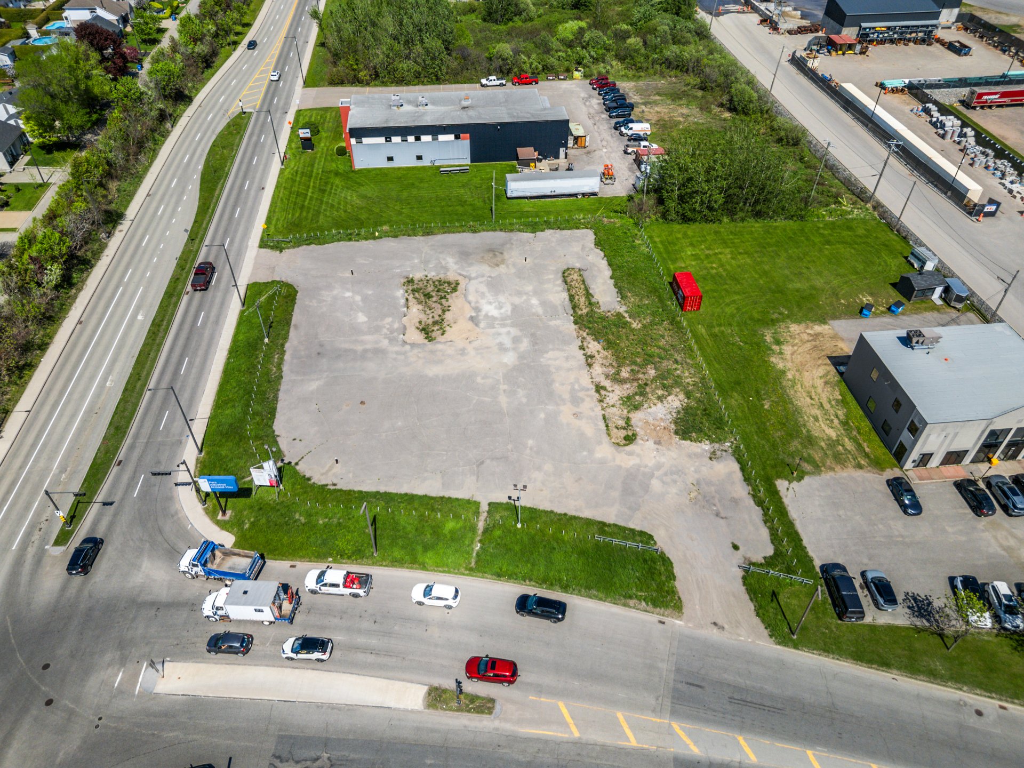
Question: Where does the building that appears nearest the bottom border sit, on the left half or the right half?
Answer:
right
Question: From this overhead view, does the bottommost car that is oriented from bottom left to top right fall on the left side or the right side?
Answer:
left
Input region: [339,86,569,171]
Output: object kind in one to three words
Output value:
building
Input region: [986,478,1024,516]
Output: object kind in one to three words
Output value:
car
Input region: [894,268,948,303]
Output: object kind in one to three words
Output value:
shed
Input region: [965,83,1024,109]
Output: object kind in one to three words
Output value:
trailer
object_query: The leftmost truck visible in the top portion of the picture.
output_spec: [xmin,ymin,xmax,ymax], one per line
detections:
[191,263,214,289]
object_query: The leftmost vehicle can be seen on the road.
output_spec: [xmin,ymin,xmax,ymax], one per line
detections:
[65,535,107,578]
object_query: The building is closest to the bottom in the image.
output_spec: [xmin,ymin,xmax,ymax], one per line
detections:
[841,322,1024,469]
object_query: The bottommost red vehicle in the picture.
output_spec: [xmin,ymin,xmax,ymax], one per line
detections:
[464,656,520,687]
